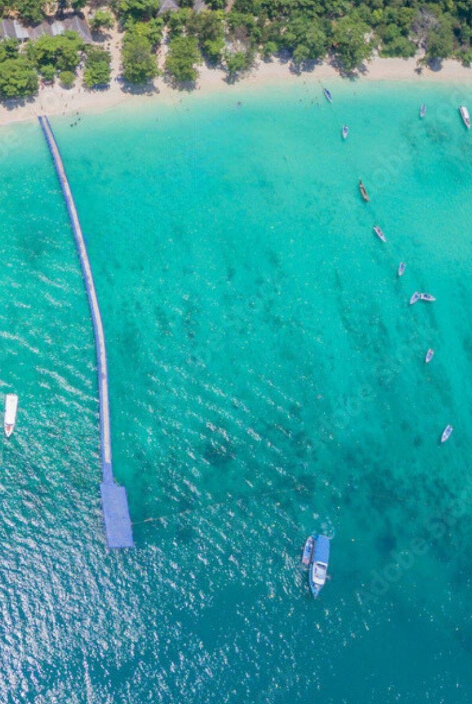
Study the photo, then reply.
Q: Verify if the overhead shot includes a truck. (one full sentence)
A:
No, I can see no truck in this picture.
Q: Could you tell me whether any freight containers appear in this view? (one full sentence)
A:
No, there appears to be no freight container in this shot.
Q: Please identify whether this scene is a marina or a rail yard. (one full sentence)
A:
The picture captures a marina.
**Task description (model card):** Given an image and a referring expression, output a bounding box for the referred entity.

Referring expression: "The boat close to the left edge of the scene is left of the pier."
[5,391,17,437]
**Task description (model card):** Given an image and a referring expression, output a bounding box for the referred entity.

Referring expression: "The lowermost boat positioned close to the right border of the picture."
[441,422,455,443]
